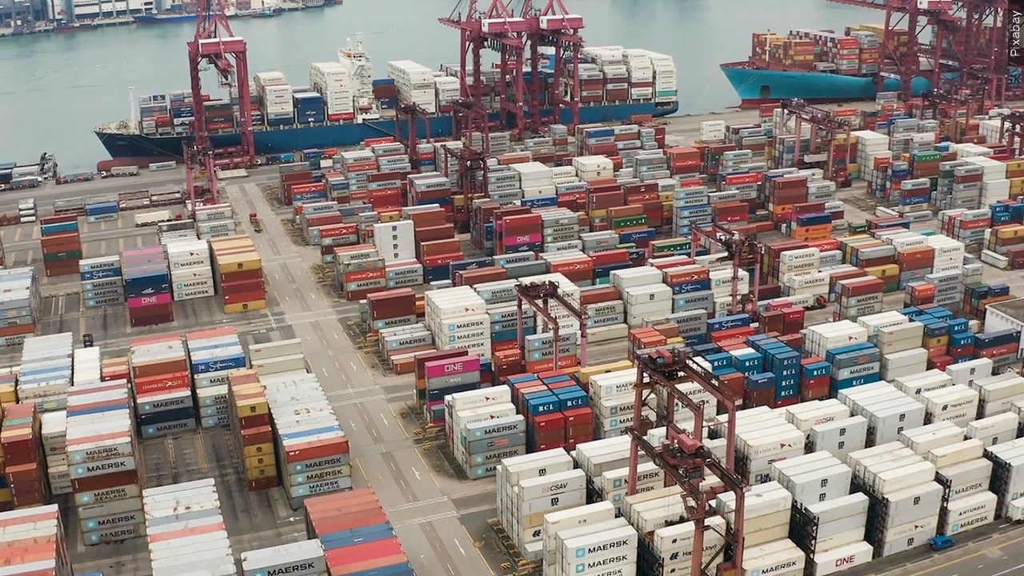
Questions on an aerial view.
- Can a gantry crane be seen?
Yes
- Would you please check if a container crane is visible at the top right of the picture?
Yes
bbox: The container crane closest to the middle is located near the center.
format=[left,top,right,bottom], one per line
[511,272,599,386]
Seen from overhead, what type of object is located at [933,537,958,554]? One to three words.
vehicle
